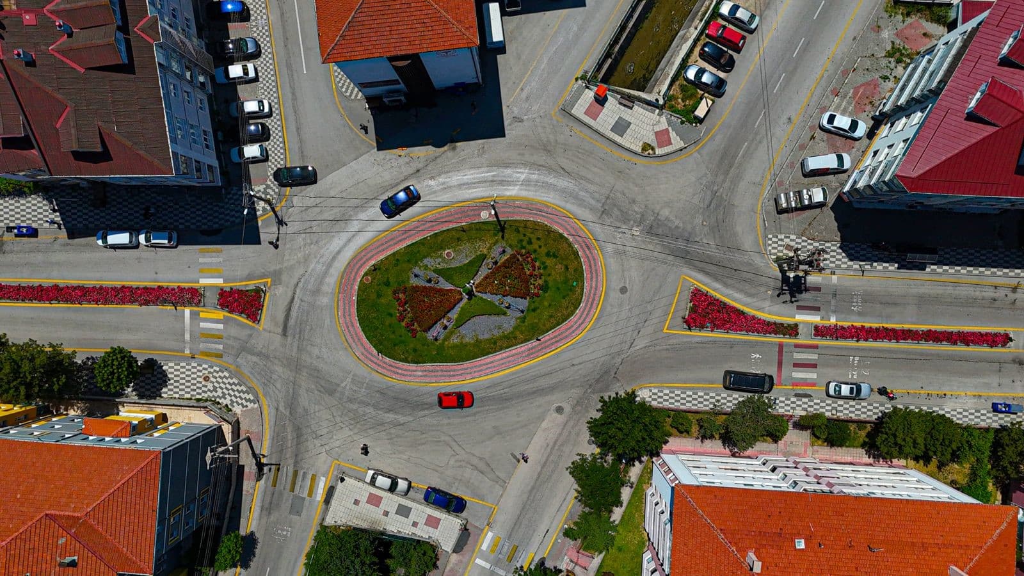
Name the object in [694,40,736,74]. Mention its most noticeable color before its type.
black car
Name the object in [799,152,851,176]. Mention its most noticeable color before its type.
white vehicle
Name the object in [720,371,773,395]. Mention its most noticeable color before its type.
black vehicle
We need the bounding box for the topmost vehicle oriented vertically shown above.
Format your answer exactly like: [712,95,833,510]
[482,0,504,54]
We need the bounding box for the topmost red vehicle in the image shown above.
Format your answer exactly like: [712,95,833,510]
[702,22,749,54]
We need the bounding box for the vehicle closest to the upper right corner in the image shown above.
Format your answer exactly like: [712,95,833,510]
[815,110,866,142]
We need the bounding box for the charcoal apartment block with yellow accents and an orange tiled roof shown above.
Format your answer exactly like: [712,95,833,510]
[0,401,222,576]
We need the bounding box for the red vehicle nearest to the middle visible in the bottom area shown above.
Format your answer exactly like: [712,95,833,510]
[437,390,473,410]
